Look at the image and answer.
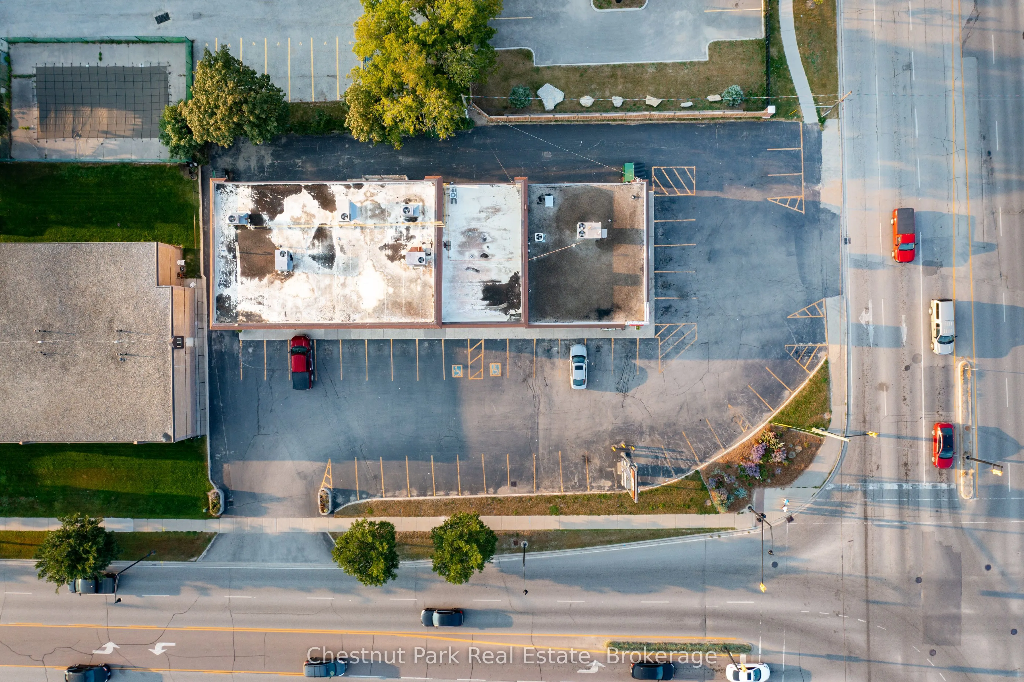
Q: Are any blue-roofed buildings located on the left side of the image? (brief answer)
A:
No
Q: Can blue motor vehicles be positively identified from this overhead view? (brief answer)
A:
Yes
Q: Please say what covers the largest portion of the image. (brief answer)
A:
paved ground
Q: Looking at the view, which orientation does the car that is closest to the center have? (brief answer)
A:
from top to bottom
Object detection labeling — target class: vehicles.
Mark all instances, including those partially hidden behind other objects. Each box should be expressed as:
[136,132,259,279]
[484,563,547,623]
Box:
[64,663,114,682]
[931,422,956,470]
[569,342,590,390]
[723,663,770,682]
[929,299,955,355]
[302,657,350,680]
[66,574,120,597]
[628,661,676,682]
[419,607,465,630]
[892,208,918,263]
[289,334,313,390]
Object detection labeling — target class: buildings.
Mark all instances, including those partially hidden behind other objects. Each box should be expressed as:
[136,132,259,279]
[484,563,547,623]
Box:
[210,176,649,329]
[0,242,197,446]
